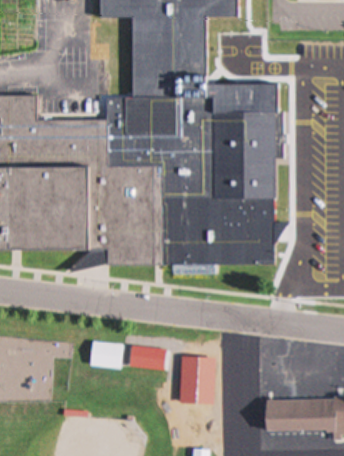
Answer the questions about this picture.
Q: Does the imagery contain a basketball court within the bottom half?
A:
No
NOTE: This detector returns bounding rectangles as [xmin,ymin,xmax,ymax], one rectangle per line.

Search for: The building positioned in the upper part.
[0,0,288,276]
